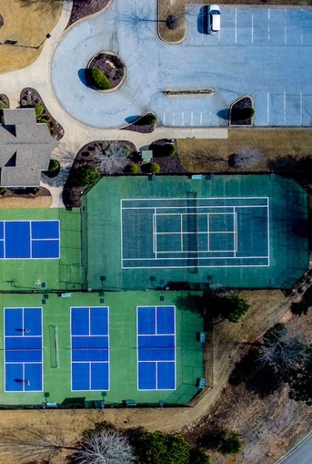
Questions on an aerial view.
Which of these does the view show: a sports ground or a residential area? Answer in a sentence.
What you see here is a sports ground.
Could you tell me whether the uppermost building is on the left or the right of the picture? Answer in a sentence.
It is on the left.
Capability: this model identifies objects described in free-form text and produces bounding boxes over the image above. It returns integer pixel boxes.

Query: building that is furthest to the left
[0,108,60,189]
